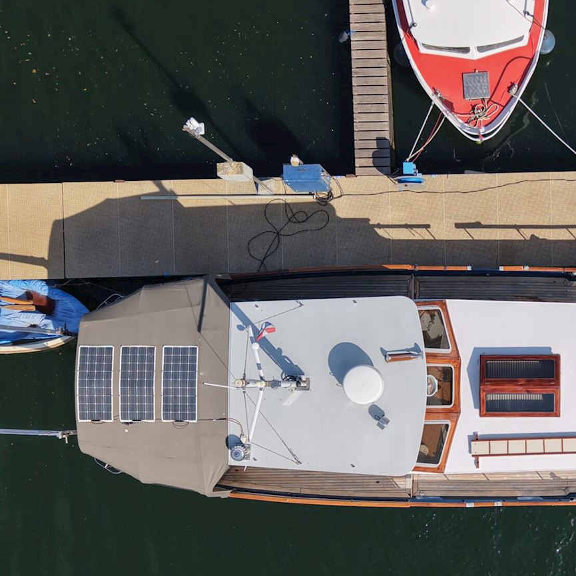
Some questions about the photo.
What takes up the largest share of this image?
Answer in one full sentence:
Most of the picture is covered by water.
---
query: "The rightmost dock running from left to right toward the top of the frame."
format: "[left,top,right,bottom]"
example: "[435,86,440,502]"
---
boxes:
[64,169,576,279]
